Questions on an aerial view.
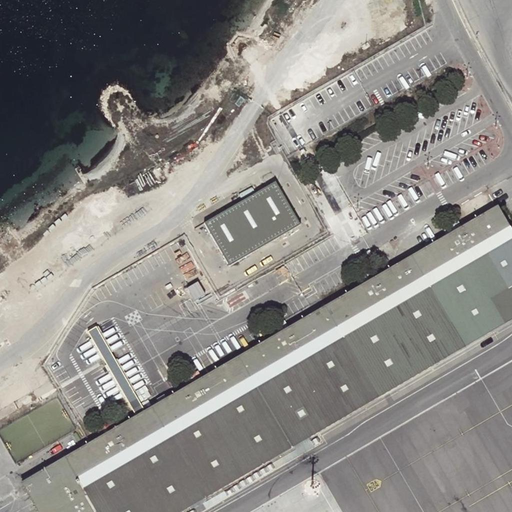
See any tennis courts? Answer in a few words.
No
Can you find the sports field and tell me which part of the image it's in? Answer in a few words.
bottom left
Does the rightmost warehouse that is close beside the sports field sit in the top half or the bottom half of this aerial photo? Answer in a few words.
bottom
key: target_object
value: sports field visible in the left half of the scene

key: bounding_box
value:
[0,398,76,462]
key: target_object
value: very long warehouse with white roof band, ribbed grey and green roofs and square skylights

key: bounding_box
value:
[66,204,512,512]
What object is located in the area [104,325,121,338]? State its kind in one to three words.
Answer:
vehicle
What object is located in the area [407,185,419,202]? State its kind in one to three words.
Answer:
vehicle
